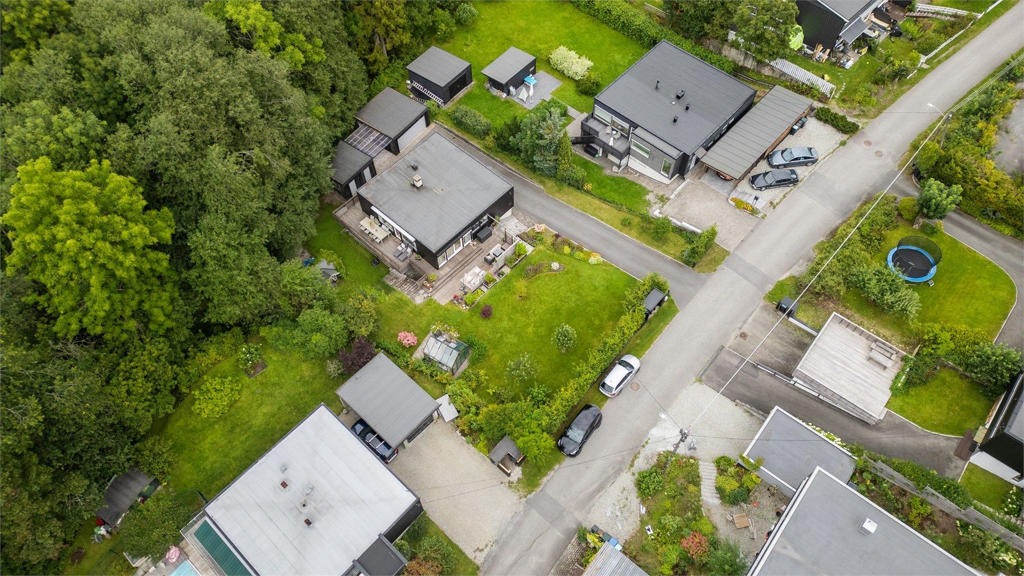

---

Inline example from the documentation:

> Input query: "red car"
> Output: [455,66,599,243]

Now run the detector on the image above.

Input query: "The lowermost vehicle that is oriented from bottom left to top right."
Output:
[558,399,605,459]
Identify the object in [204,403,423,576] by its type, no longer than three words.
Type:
house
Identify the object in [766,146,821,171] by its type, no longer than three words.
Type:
car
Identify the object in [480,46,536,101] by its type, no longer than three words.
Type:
shed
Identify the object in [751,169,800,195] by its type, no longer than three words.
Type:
car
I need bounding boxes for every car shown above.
[766,146,821,171]
[751,169,800,195]
[558,399,605,459]
[350,420,405,469]
[597,352,642,401]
